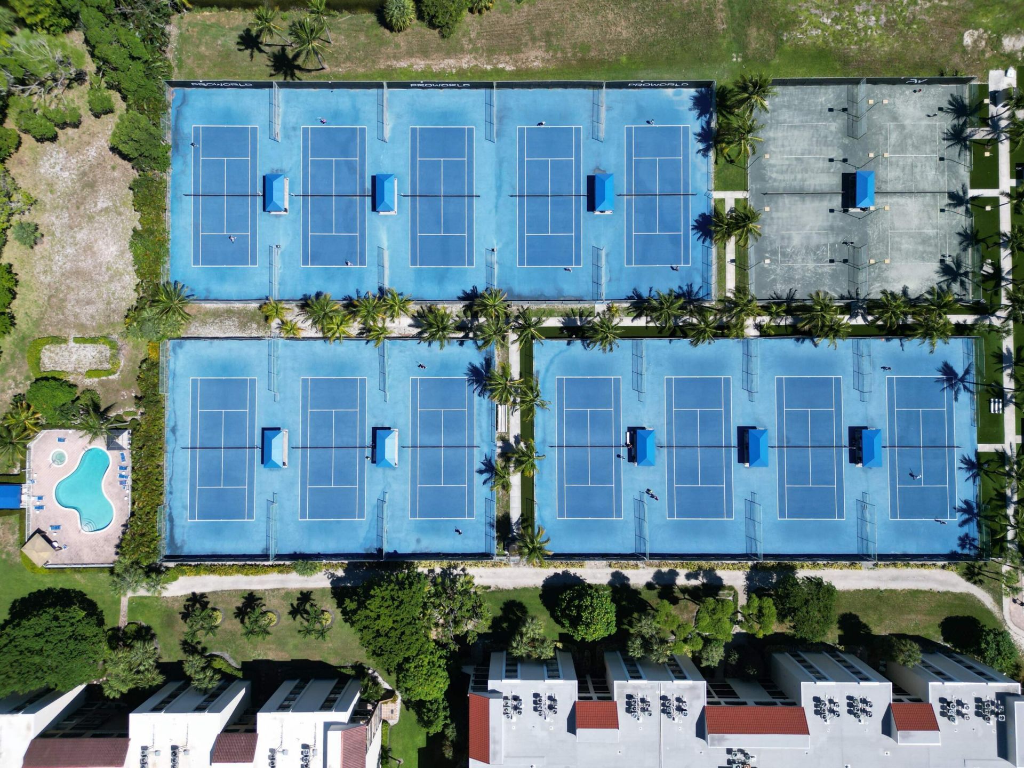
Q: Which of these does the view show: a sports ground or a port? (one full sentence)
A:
This image shows a sports ground.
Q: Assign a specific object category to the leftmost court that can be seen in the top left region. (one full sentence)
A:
It looks like the leftmost court that can be seen in the top left region is a tennis court.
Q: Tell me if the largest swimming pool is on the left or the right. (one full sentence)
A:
You can find the largest swimming pool on the left side of the picture.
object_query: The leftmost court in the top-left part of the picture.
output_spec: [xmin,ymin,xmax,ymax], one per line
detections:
[170,89,280,301]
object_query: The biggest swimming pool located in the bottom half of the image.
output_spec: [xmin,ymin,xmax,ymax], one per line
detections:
[53,445,116,534]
